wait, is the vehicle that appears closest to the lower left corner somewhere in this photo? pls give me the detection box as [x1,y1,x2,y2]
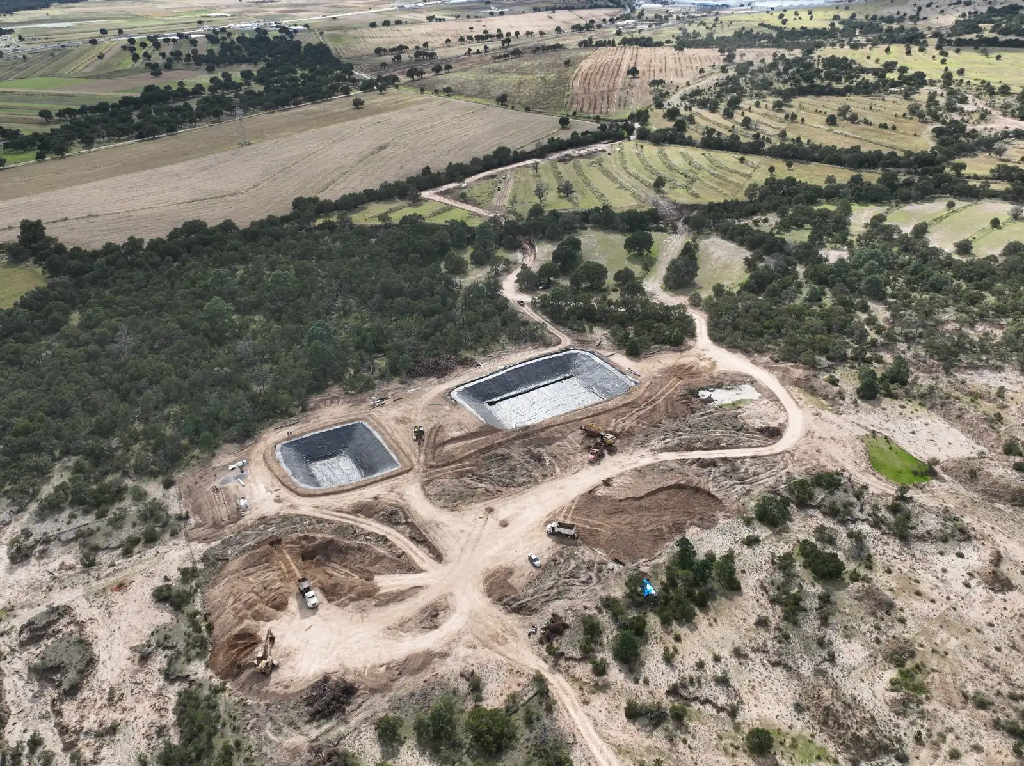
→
[252,629,278,676]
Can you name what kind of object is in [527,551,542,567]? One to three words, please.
car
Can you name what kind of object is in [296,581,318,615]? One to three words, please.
truck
